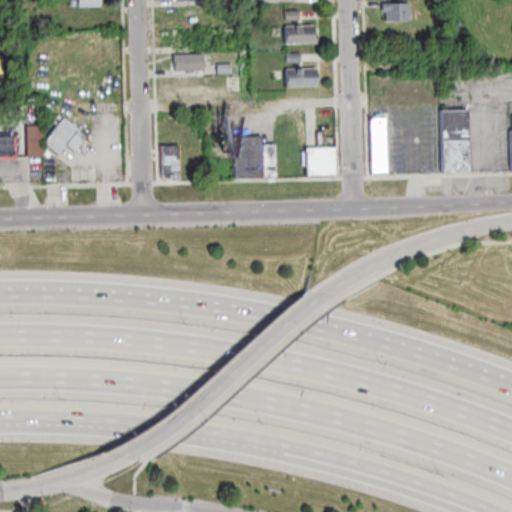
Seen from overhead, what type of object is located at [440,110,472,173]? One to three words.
building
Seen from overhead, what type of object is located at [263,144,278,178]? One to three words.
building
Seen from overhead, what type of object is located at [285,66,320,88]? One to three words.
house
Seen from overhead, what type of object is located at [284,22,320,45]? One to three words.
house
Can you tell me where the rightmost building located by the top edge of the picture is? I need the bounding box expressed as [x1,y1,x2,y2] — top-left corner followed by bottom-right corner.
[382,2,410,21]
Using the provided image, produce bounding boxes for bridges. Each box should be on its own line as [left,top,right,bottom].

[112,293,344,464]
